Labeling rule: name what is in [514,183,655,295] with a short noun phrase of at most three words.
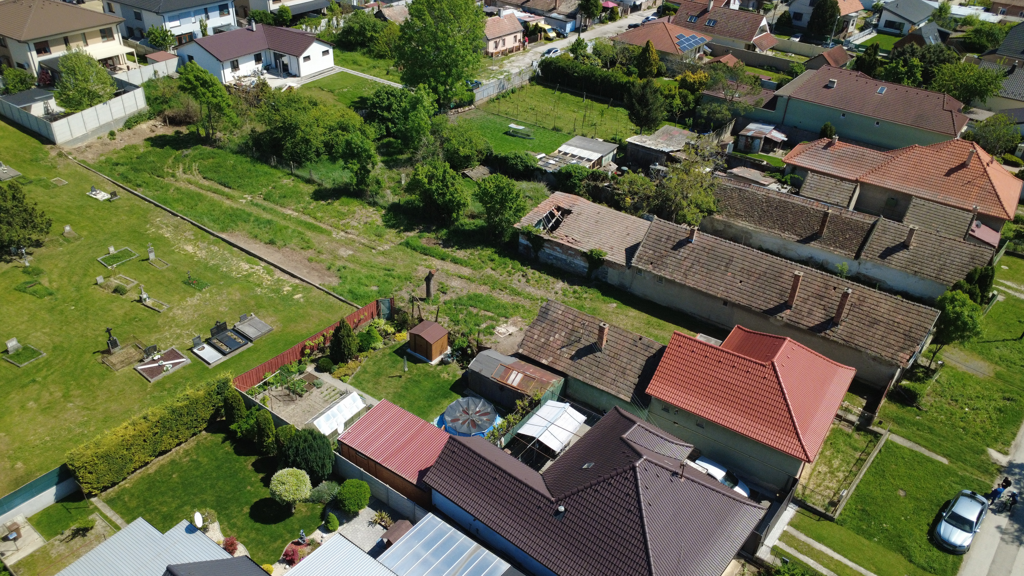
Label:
shed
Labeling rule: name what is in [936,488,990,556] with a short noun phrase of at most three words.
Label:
car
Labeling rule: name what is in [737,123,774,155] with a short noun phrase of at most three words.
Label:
shed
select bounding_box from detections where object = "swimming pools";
[439,396,502,438]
